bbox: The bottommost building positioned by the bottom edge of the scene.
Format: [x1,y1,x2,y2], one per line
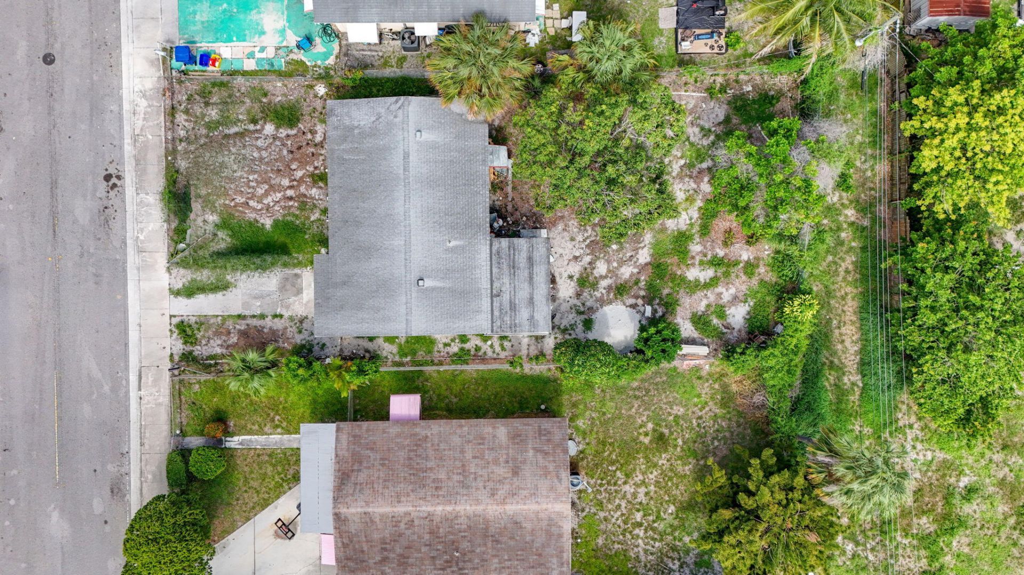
[299,394,573,575]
